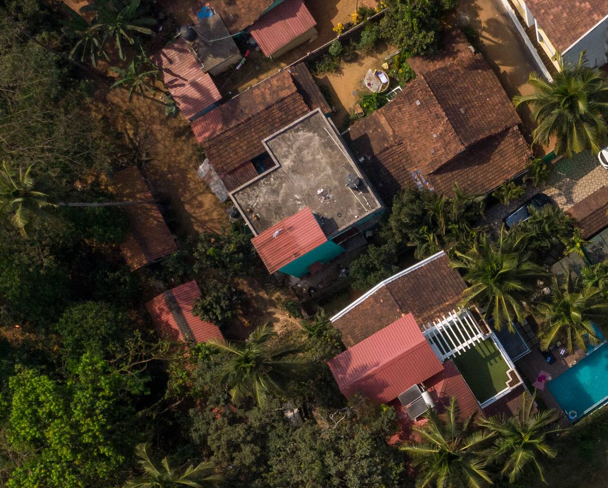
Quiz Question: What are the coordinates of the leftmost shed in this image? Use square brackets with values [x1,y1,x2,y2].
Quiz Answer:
[110,163,182,271]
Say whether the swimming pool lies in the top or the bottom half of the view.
bottom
